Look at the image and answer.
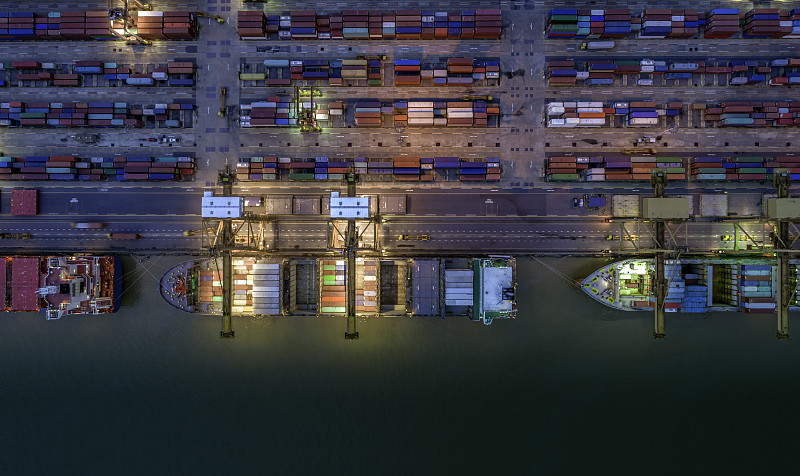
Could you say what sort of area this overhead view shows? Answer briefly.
port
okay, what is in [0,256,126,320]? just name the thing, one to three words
ship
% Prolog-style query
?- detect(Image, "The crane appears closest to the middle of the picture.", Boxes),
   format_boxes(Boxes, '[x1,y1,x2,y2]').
[325,164,384,341]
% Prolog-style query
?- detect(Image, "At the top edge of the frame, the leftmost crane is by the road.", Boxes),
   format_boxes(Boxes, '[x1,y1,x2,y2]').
[105,0,151,43]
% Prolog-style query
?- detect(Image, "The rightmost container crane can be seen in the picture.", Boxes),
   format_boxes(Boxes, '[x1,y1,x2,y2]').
[721,165,800,341]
